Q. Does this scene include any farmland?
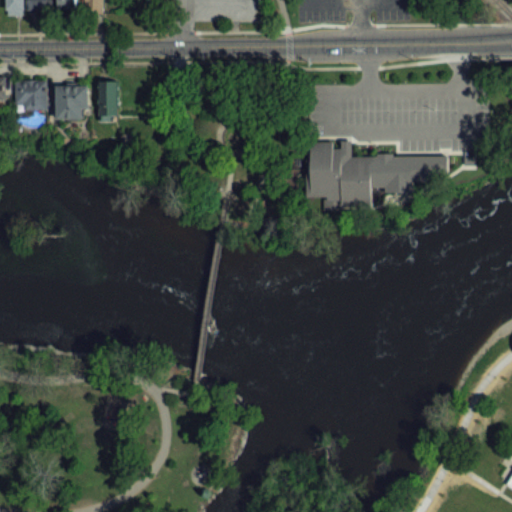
No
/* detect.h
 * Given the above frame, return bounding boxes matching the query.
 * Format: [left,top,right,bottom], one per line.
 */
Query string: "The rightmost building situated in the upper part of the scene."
[310,140,447,208]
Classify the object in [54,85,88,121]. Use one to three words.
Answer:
house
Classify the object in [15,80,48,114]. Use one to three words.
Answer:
house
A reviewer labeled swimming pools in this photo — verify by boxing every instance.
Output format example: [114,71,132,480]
[18,114,46,128]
